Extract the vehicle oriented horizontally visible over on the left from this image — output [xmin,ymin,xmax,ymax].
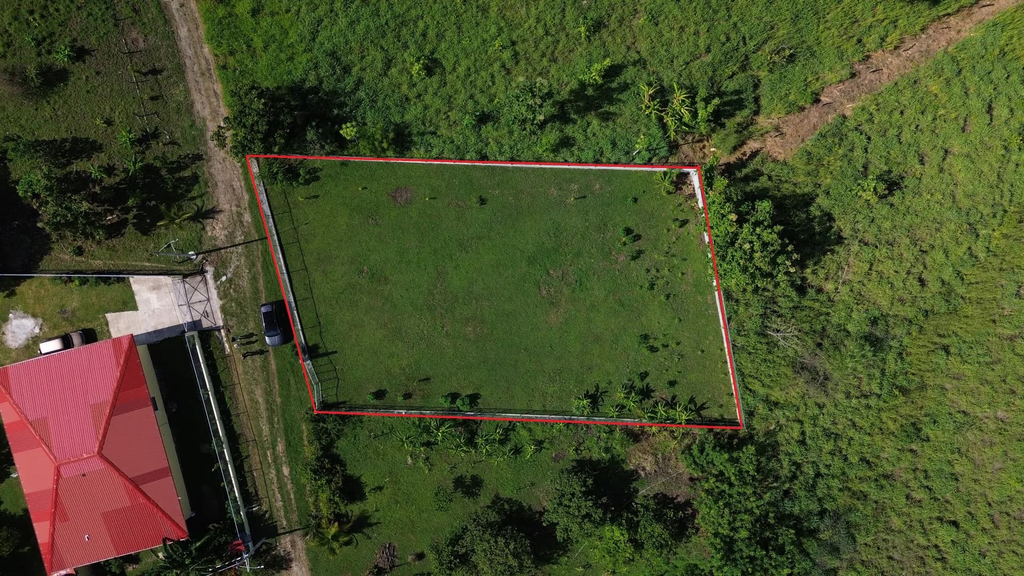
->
[36,328,88,354]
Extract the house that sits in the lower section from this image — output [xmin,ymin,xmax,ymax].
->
[0,334,197,576]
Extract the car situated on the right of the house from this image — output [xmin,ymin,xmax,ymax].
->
[261,302,286,348]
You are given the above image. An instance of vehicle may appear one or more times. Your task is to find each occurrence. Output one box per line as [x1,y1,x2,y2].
[261,302,286,348]
[36,328,88,354]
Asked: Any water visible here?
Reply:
No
